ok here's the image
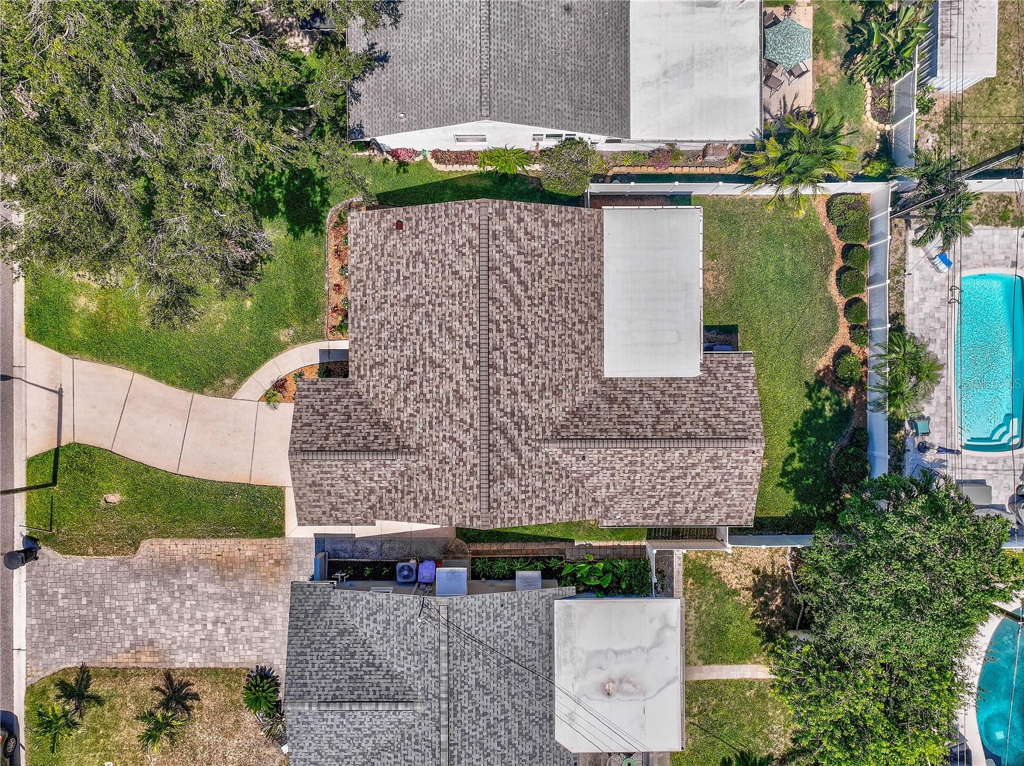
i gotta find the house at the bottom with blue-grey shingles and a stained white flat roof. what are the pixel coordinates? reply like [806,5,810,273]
[285,566,685,766]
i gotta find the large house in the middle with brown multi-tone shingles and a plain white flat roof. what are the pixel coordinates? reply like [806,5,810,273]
[290,199,765,529]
